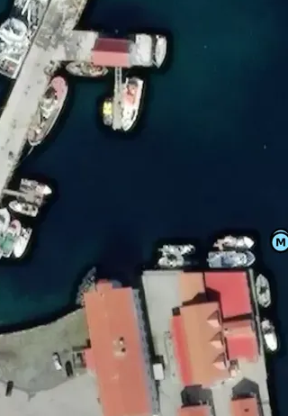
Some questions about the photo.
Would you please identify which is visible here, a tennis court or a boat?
boat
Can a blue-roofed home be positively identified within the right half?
No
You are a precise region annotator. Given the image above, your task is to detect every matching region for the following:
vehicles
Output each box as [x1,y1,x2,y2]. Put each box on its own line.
[6,382,13,395]
[53,355,62,370]
[65,362,73,376]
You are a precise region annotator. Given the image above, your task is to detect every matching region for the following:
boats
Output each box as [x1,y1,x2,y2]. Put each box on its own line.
[102,99,113,127]
[65,63,109,79]
[8,202,39,219]
[119,78,145,131]
[16,226,35,259]
[261,320,275,352]
[216,238,254,250]
[20,176,52,193]
[208,251,255,269]
[161,243,195,254]
[0,207,9,242]
[256,273,271,308]
[28,76,64,146]
[154,35,168,68]
[157,254,185,268]
[0,220,21,262]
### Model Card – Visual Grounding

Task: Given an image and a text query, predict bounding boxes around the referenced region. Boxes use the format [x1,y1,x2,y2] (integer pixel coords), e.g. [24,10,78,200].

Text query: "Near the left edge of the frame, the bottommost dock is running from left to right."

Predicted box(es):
[3,189,42,205]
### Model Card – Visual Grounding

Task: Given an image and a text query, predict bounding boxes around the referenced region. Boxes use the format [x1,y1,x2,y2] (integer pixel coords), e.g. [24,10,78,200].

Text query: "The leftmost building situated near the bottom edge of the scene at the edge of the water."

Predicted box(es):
[75,281,159,416]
